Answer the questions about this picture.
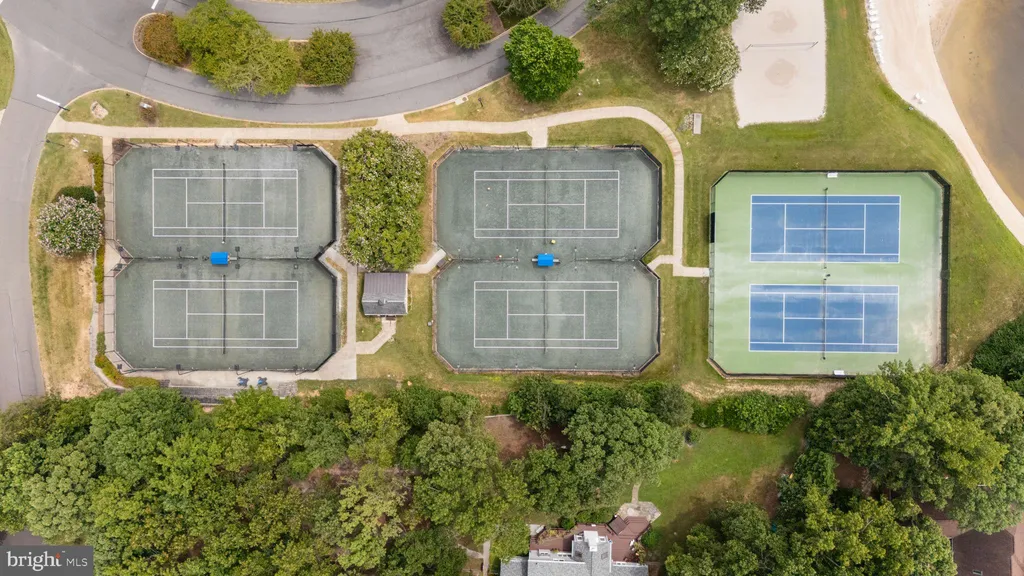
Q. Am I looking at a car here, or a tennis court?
tennis court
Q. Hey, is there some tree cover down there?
Yes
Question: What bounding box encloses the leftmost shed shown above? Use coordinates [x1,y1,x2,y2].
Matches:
[362,273,409,320]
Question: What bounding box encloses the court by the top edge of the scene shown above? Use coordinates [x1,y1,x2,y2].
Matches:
[732,0,827,127]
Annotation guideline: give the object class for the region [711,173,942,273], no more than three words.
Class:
tennis court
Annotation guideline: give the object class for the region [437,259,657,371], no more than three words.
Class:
tennis court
